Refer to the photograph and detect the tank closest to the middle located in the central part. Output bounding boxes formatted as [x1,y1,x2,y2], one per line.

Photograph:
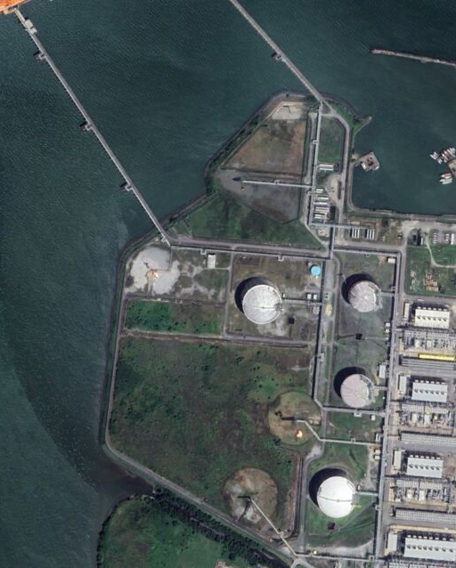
[240,276,285,322]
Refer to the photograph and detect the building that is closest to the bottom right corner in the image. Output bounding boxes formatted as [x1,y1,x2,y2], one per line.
[403,532,456,562]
